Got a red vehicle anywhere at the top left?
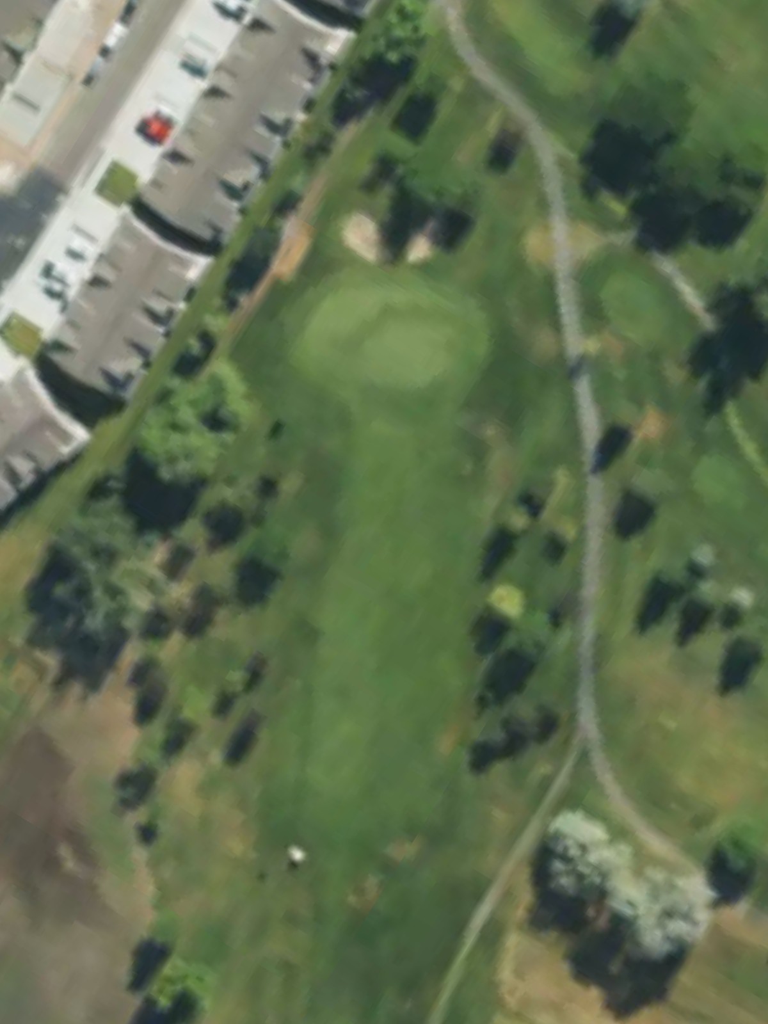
Yes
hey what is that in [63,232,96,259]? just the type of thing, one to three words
car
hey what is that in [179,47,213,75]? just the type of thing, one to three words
car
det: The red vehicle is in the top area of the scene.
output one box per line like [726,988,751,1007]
[138,112,173,142]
